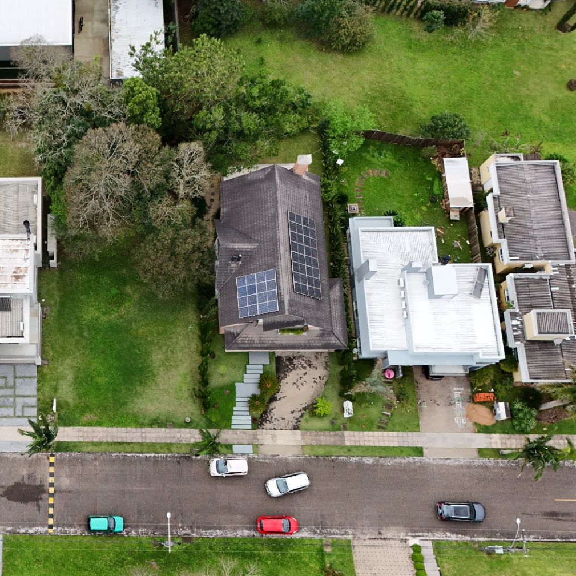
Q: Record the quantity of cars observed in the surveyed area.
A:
6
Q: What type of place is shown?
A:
residential area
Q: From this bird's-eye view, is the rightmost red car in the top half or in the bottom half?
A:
bottom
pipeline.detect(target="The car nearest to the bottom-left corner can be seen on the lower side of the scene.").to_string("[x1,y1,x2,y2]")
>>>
[87,515,124,535]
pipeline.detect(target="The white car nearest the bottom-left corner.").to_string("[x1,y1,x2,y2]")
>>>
[208,457,247,478]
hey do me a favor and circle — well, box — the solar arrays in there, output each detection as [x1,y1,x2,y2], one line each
[287,211,321,300]
[236,269,279,318]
